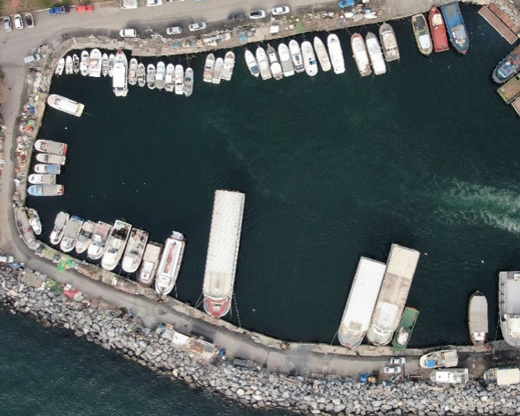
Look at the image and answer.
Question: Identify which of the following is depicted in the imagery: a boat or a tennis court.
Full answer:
Visible in the photo is a boat.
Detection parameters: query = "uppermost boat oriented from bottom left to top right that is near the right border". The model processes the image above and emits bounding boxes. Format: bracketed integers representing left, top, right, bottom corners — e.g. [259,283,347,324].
[492,42,520,84]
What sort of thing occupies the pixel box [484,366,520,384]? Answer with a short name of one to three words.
boat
